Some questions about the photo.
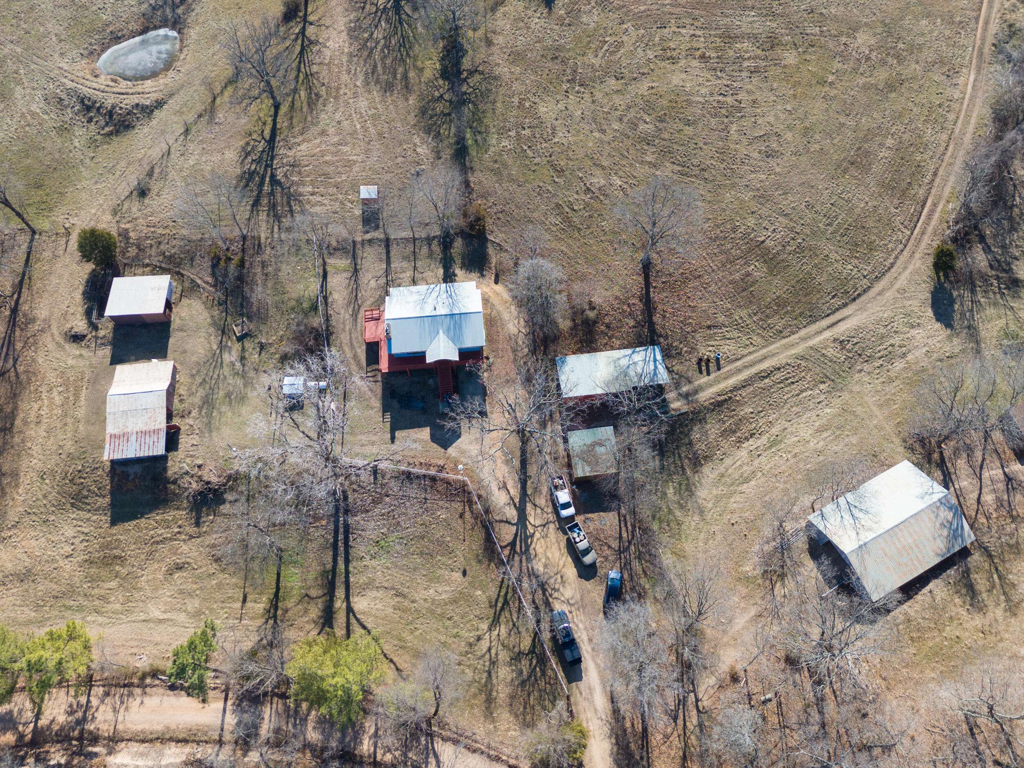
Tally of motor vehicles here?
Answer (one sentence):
My tally gives 4 motor vehicles in this view.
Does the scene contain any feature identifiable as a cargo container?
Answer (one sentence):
No, the scene contains no cargo container.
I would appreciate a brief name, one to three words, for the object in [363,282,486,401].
house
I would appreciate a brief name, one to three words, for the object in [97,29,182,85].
pond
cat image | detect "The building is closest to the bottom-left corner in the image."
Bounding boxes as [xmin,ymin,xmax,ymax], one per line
[104,361,188,463]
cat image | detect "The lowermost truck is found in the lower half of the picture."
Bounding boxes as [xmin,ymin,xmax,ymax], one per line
[555,610,585,665]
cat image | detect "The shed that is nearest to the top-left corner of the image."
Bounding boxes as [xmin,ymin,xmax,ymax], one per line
[105,275,175,323]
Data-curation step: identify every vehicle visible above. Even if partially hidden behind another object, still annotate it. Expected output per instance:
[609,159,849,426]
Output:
[599,570,621,612]
[555,610,585,665]
[549,474,576,520]
[565,522,596,568]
